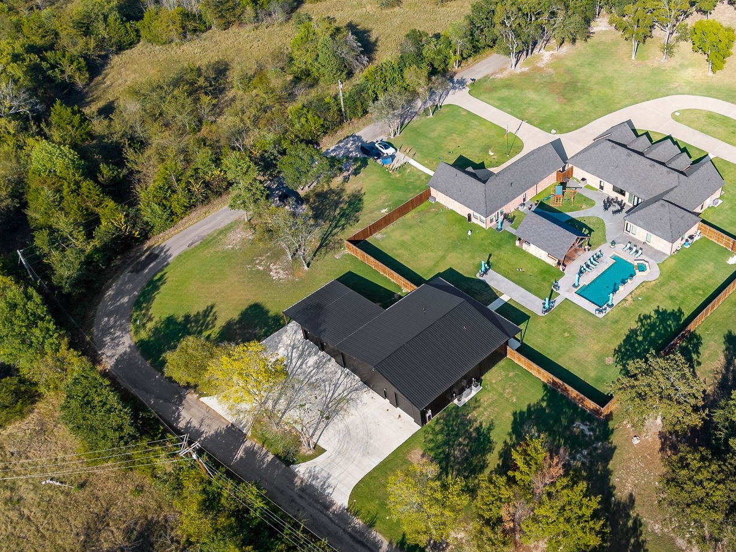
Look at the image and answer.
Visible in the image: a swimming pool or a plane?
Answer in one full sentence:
It is a swimming pool that can be seen here.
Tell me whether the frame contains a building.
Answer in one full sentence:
Yes, the picture does show a building.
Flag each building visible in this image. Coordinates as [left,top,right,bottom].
[515,211,591,270]
[282,278,526,428]
[427,143,566,230]
[567,123,728,255]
